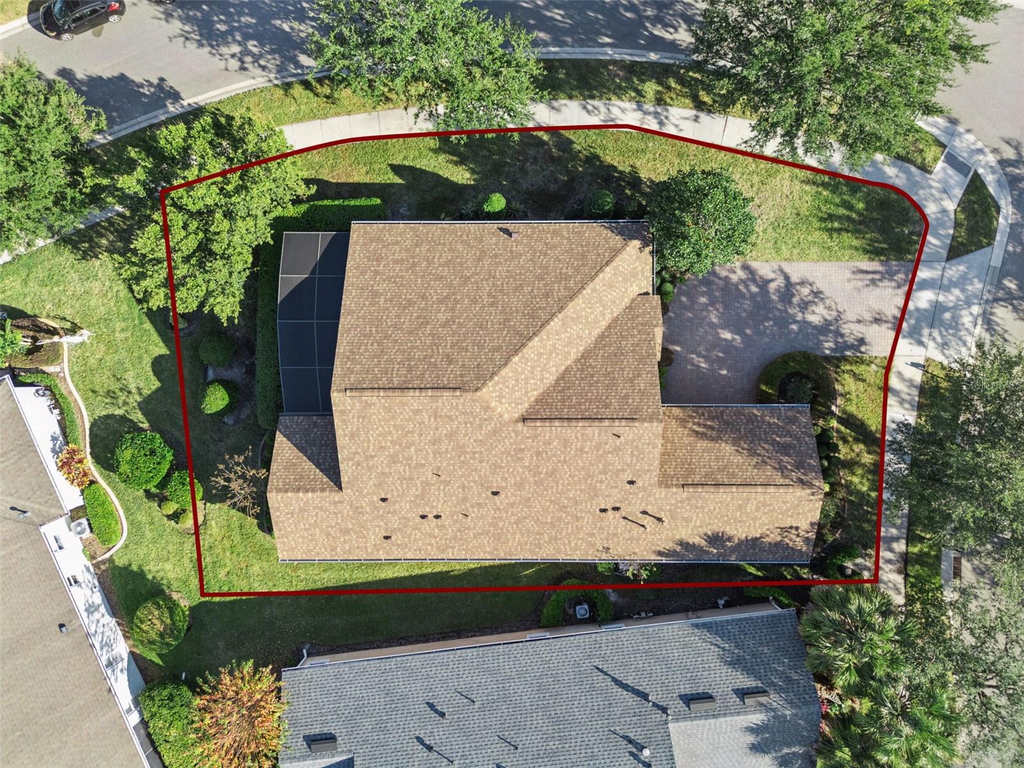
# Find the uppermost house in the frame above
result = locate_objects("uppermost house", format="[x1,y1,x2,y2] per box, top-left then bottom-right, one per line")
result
[267,219,825,565]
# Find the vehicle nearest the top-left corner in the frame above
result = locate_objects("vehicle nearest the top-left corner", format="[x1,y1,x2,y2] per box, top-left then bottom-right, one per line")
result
[38,0,124,41]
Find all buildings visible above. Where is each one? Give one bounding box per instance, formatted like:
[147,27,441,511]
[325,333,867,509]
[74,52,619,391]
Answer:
[279,599,821,768]
[0,375,159,768]
[267,219,825,565]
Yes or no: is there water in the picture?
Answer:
No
